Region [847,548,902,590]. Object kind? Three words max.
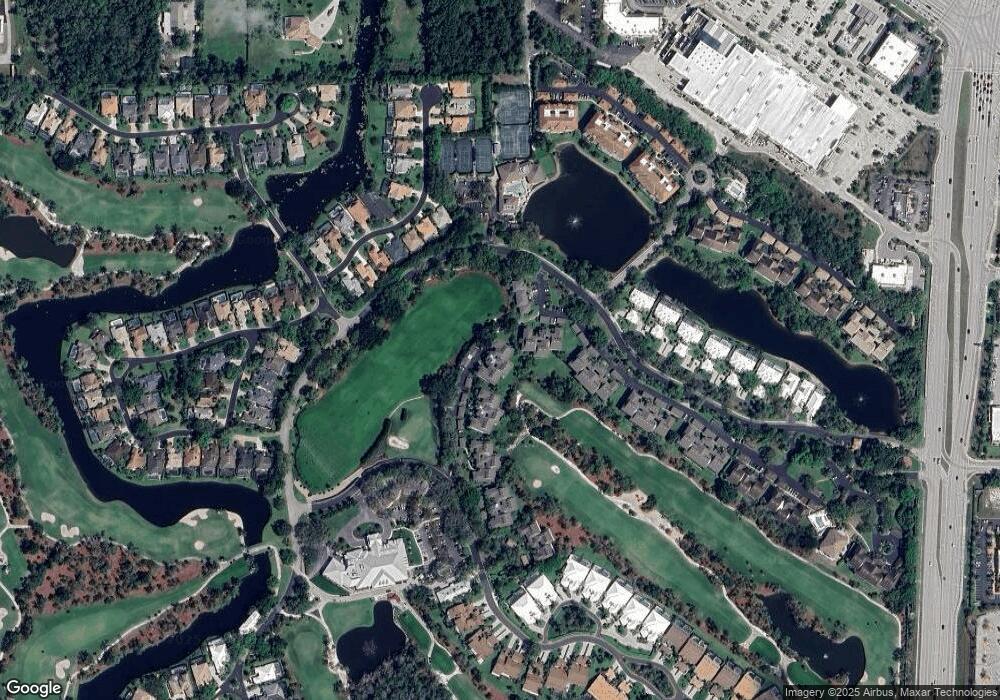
building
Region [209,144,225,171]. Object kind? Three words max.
house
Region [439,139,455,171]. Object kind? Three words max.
tennis court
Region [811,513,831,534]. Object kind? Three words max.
swimming pool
